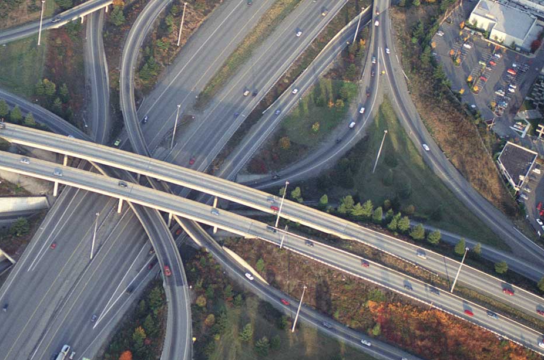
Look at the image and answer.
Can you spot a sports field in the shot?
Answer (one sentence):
No, no sports field can be seen from above.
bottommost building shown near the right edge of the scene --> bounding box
[497,142,537,193]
